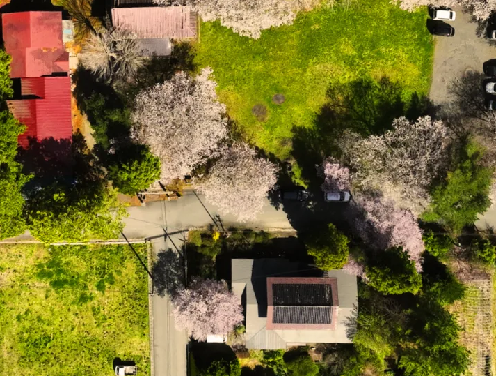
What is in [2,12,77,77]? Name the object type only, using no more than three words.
house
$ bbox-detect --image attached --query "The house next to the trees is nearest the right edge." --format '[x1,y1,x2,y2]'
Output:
[231,257,358,350]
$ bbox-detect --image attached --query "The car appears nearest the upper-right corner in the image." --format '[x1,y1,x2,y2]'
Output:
[481,25,496,38]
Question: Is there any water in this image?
No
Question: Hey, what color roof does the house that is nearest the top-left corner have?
red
